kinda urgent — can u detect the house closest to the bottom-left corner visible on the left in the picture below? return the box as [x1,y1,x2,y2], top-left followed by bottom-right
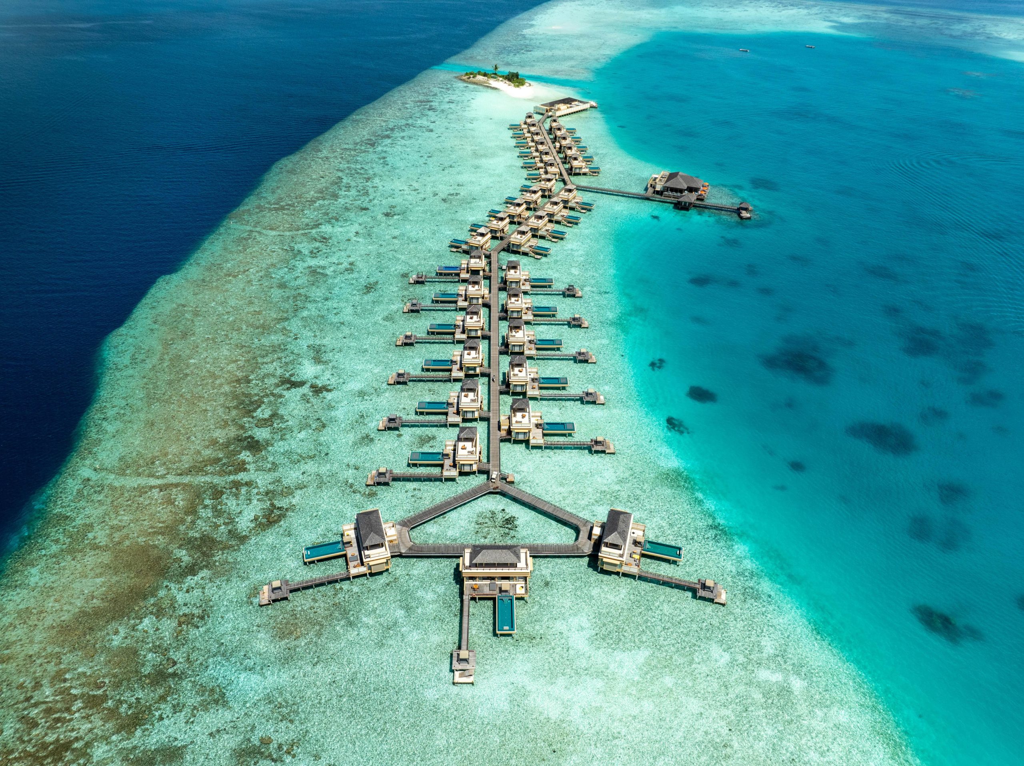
[345,508,398,584]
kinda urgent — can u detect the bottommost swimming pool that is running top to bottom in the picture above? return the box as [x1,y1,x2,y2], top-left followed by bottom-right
[496,598,514,639]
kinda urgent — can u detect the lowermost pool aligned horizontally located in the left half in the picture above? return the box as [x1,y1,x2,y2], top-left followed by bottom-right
[305,540,348,563]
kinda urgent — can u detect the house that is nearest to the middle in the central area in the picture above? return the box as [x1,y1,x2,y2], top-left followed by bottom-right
[506,354,541,404]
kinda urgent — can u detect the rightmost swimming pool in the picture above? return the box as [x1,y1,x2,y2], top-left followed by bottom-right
[643,540,686,563]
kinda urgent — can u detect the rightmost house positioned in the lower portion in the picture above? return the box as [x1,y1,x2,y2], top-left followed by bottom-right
[593,507,647,584]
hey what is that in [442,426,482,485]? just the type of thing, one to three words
house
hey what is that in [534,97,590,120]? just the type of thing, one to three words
building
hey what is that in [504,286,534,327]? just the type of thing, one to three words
house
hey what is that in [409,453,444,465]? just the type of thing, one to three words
swimming pool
